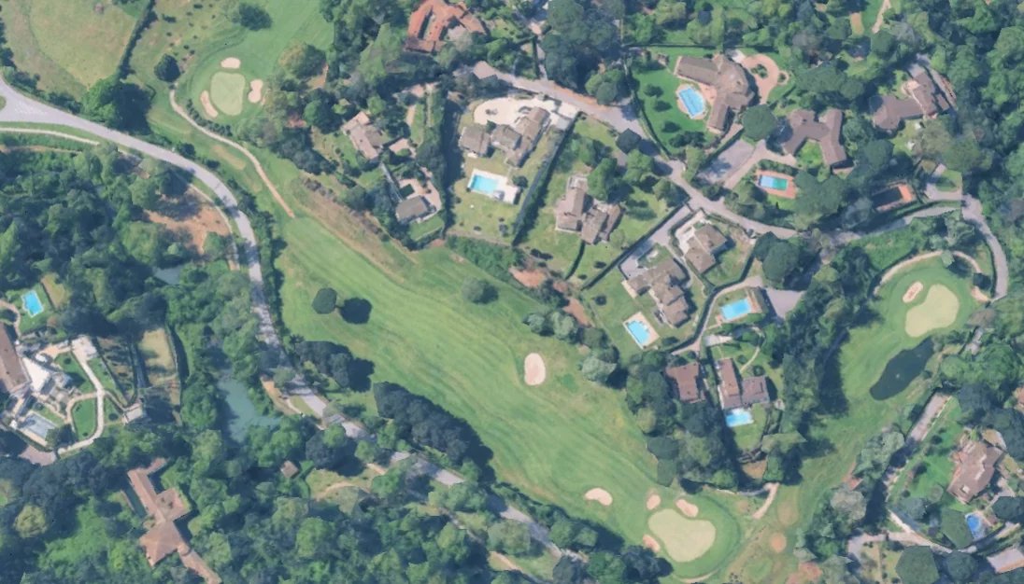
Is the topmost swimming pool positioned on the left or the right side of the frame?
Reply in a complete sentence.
You can find the topmost swimming pool on the right side of the picture.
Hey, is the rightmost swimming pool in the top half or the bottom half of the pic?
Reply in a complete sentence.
Seen from above, the rightmost swimming pool lies in the bottom half of the view.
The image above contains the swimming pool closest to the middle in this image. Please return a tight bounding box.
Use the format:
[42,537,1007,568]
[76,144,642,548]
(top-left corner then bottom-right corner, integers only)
[467,169,519,204]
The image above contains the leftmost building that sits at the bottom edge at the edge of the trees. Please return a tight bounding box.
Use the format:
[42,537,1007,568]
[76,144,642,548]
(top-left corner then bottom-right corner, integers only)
[129,460,222,584]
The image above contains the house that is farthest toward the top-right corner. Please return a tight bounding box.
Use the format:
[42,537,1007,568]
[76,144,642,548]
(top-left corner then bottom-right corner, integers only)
[873,65,949,131]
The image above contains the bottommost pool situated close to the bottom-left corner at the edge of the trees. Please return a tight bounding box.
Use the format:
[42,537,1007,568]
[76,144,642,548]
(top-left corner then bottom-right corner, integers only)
[123,482,149,518]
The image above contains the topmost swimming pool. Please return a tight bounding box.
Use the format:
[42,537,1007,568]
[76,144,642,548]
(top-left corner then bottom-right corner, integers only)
[676,84,708,119]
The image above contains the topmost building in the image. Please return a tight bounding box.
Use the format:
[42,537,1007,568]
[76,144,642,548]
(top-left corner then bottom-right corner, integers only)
[405,0,486,53]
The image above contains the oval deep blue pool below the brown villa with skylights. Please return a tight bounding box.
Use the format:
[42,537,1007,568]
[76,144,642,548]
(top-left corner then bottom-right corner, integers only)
[965,511,996,540]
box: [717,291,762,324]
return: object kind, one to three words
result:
swimming pool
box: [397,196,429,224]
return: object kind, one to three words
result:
building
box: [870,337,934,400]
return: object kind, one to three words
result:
pond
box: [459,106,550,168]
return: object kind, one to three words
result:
house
